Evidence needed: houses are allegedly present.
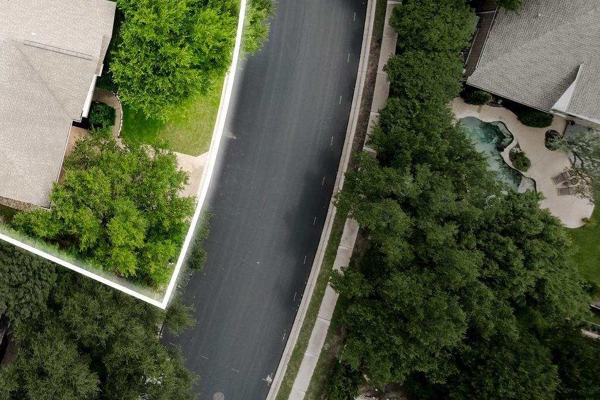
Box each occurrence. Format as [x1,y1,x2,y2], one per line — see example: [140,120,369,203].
[453,0,600,122]
[0,0,118,210]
